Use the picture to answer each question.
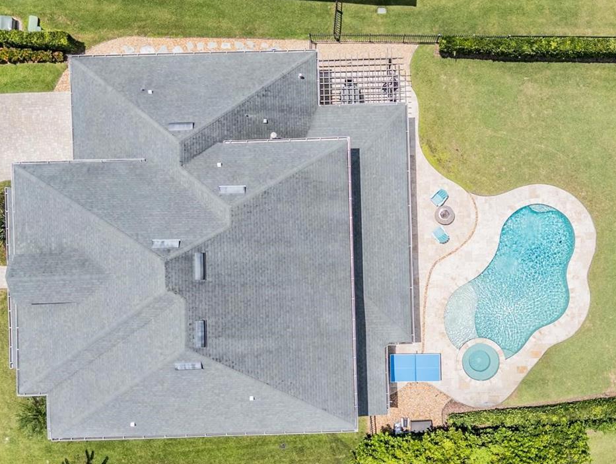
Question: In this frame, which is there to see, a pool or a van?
pool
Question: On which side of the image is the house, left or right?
left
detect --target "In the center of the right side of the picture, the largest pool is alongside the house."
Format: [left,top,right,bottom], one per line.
[440,199,580,363]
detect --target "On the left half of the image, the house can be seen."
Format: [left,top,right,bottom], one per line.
[4,47,417,442]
